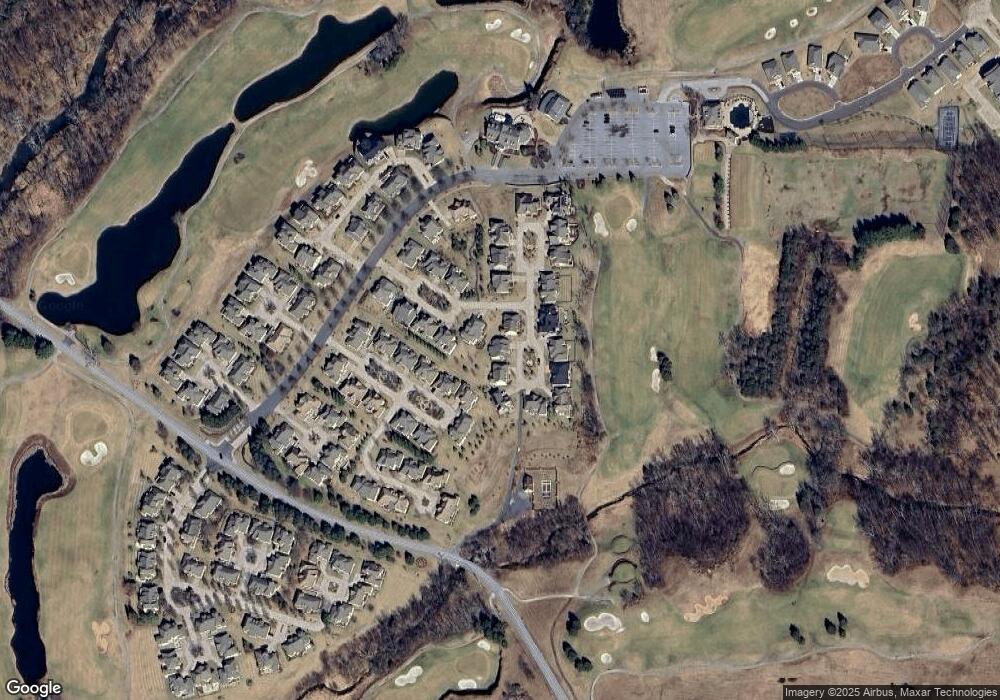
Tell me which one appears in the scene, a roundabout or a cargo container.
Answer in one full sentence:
Looking from above, you can make out a roundabout.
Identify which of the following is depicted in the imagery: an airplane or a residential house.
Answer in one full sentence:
The image shows a residential house.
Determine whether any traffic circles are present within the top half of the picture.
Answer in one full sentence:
Yes, looking within the top half of the picture, one can make out a traffic circle.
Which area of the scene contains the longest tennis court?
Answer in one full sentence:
The longest tennis court sits in the top right section of the image.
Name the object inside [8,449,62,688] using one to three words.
pond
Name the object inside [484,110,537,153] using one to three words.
building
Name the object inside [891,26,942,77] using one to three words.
roundabout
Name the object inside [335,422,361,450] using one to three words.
house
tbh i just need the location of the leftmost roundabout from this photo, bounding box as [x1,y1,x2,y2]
[771,78,842,126]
